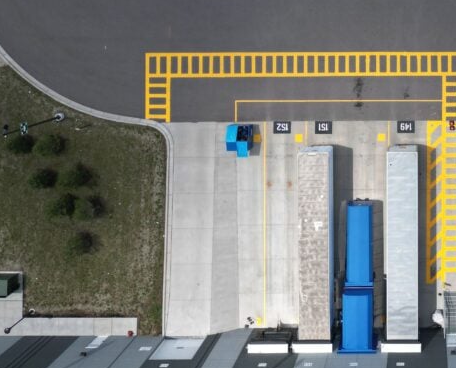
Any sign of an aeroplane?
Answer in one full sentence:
No, this view has no aeroplane in it.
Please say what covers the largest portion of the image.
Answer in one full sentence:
For the most part, this view shows paved ground.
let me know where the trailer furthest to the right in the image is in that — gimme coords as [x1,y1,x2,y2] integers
[386,145,419,342]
